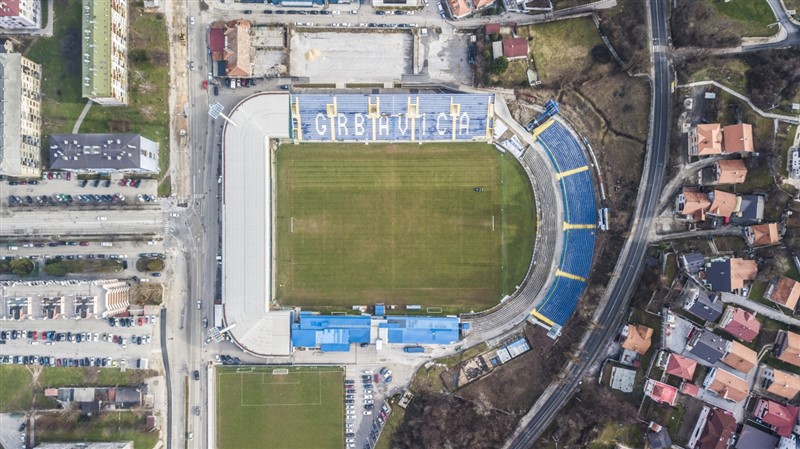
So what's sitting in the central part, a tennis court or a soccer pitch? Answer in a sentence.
Visible in the central part is a soccer pitch.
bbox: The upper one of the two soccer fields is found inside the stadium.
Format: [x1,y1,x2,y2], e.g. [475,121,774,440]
[274,138,538,314]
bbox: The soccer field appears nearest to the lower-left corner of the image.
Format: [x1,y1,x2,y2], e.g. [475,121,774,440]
[217,366,345,449]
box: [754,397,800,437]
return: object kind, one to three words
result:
house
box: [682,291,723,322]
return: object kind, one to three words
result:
house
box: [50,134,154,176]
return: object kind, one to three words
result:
building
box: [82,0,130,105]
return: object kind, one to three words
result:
building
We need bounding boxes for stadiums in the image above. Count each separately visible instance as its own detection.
[220,75,597,358]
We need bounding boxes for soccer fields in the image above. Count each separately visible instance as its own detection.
[217,366,345,449]
[274,138,538,314]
